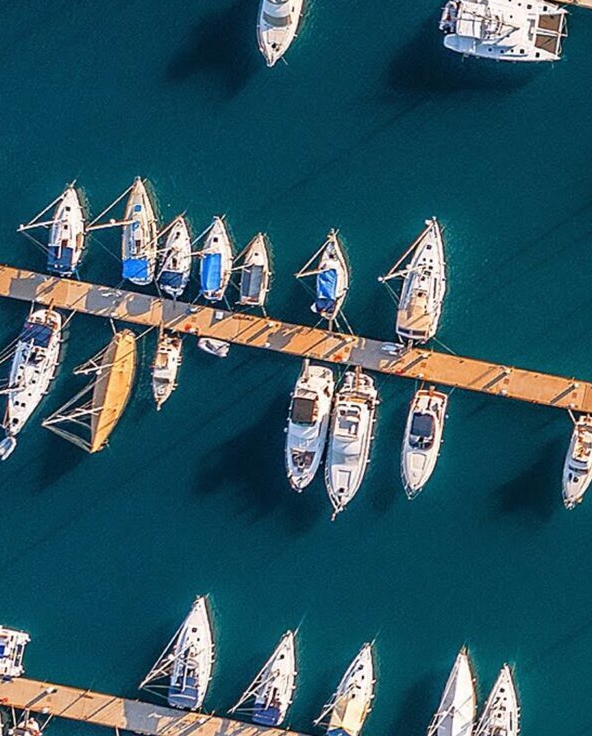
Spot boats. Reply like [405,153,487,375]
[285,359,344,496]
[436,1,458,37]
[426,647,480,736]
[18,182,91,283]
[227,629,302,729]
[0,626,32,676]
[323,366,384,517]
[10,707,51,736]
[227,230,276,319]
[45,319,155,451]
[444,0,574,69]
[139,213,198,306]
[197,335,230,355]
[148,324,184,414]
[561,410,592,513]
[86,174,163,297]
[183,213,236,312]
[312,638,379,736]
[140,593,219,711]
[471,663,522,736]
[295,227,354,335]
[400,381,458,502]
[258,0,310,69]
[380,216,456,353]
[0,301,77,437]
[0,436,15,463]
